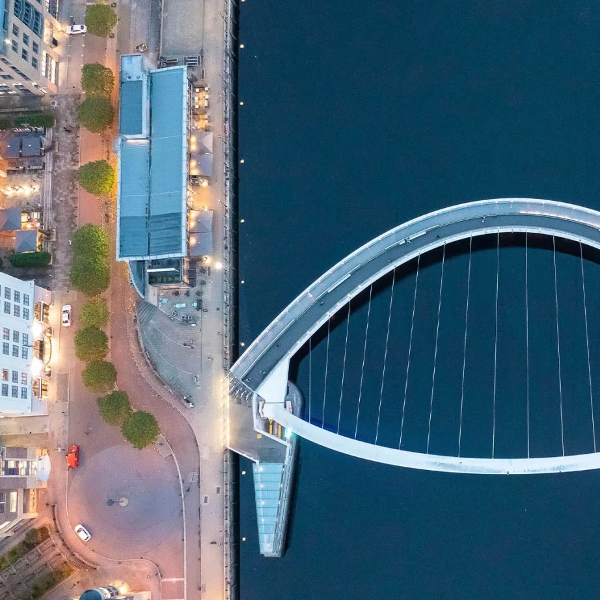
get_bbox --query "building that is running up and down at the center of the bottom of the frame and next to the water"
[253,463,287,559]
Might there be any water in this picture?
Yes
